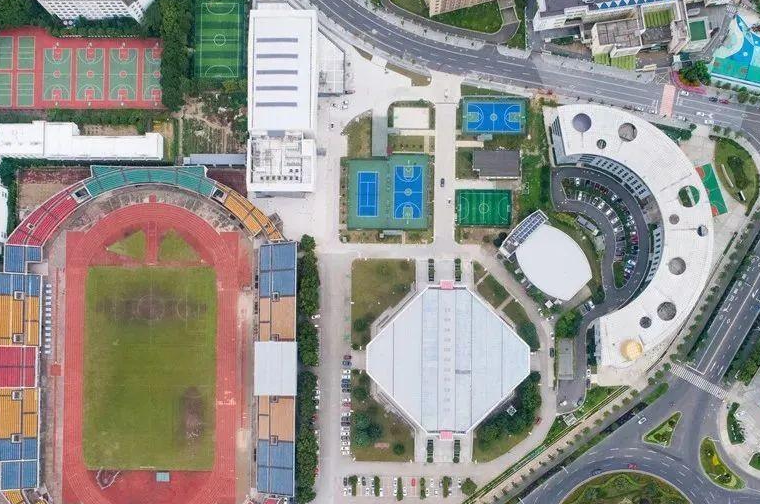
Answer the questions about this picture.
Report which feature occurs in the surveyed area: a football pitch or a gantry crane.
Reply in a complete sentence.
Of the two, only a football pitch appears.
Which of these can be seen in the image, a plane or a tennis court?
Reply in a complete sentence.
There is a tennis court in the scene.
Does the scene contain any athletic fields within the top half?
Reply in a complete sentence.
Yes, an athletic field can be seen within the top half.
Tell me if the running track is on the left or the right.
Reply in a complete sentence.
It is on the left.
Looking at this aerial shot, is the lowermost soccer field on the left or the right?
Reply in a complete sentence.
The lowermost soccer field sits on the left side.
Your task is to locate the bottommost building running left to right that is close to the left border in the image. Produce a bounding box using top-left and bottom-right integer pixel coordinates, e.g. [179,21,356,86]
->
[0,122,171,165]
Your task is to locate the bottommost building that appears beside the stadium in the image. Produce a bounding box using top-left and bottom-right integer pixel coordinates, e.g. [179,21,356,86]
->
[366,279,532,441]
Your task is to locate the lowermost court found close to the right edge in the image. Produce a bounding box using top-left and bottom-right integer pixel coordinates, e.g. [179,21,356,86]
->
[696,162,729,217]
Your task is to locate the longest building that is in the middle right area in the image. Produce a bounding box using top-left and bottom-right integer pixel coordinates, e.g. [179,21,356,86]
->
[557,104,713,369]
